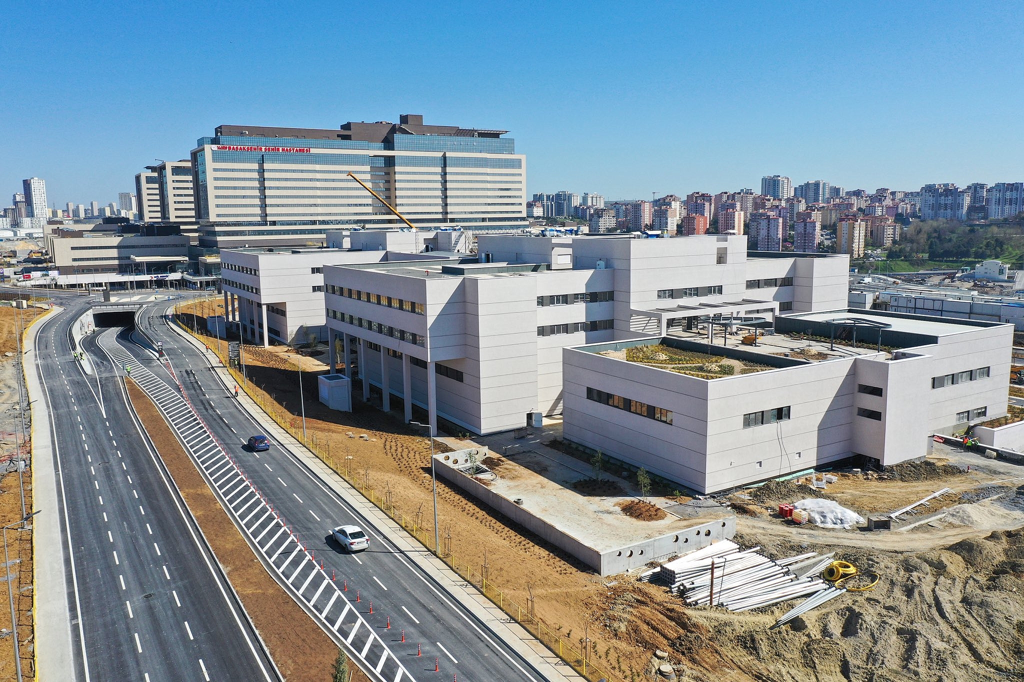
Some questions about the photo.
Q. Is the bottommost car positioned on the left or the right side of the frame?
left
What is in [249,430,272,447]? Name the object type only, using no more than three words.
car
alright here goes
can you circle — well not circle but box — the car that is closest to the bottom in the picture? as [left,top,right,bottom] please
[333,518,371,548]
